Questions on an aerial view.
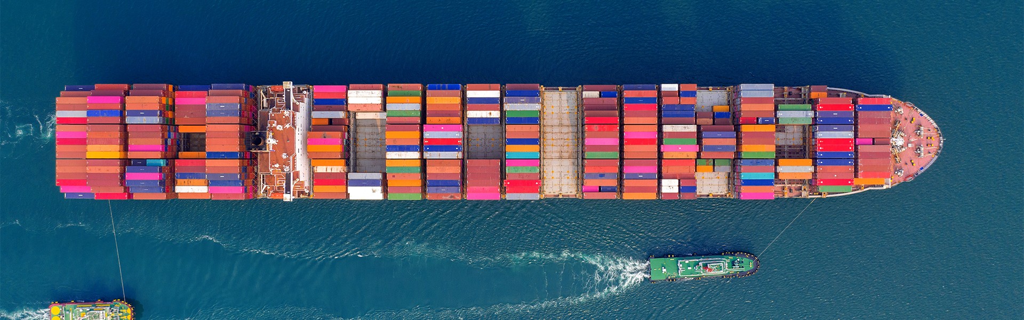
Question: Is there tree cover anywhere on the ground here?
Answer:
No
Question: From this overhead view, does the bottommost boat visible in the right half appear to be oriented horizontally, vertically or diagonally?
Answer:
horizontally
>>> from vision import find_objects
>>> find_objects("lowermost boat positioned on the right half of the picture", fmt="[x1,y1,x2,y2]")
[648,251,761,283]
